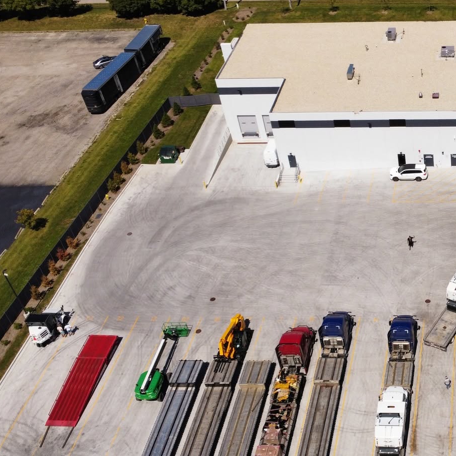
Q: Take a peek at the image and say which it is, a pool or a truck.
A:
truck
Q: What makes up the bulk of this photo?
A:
paved ground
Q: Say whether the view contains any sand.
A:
No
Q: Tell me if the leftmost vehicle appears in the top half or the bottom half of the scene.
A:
bottom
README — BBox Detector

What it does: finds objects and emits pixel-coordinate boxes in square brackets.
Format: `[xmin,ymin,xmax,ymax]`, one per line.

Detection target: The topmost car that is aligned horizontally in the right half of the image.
[389,164,428,182]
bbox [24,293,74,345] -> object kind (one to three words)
vehicle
